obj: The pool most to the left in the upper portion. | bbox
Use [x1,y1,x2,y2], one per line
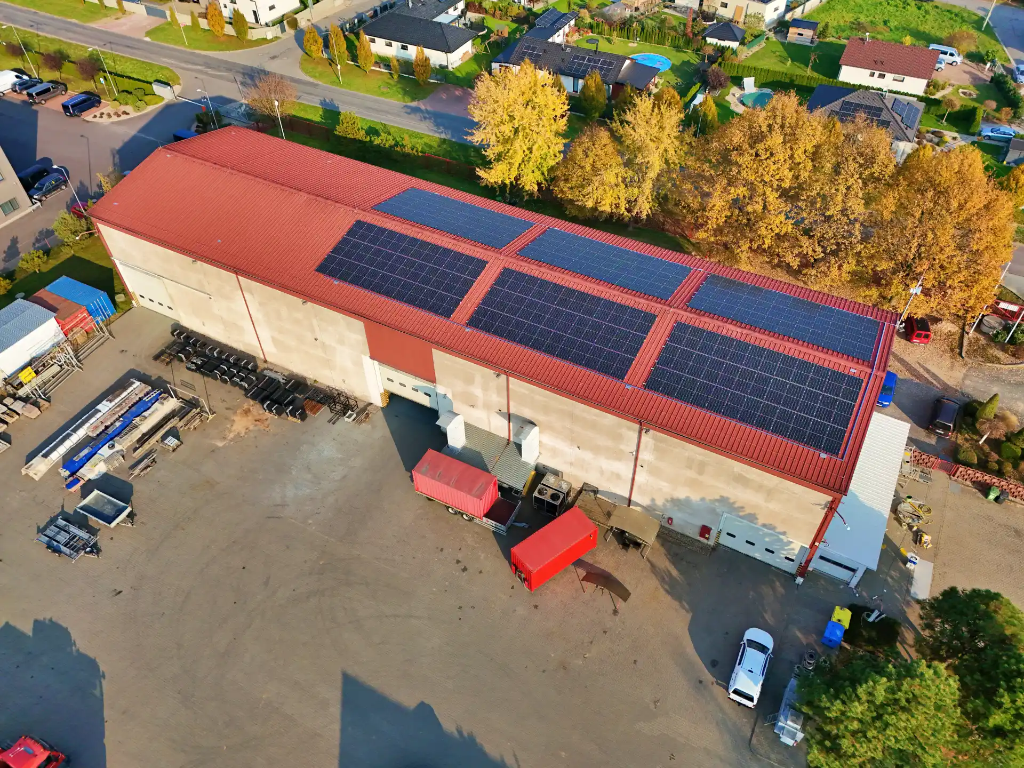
[631,53,671,73]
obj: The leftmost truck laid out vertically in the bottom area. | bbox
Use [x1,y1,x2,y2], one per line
[732,626,773,711]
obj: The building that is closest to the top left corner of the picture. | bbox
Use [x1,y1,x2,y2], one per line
[0,168,39,228]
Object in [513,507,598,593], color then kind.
red shipping container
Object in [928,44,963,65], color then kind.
white vehicle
